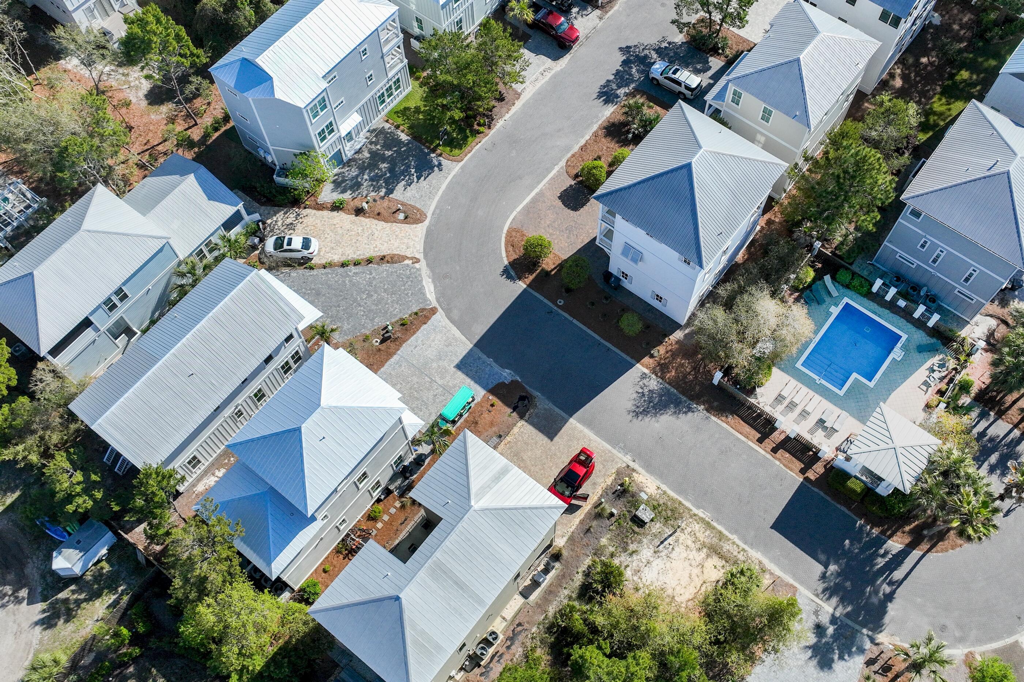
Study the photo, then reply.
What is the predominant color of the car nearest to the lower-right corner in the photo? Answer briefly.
red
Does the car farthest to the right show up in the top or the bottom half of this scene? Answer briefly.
top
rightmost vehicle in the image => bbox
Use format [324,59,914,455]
[647,64,706,100]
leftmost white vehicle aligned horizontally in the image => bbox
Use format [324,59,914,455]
[265,234,318,260]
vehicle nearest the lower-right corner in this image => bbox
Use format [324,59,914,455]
[548,444,597,506]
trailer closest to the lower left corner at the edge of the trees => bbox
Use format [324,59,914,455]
[59,519,120,584]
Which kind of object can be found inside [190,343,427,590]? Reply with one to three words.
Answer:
house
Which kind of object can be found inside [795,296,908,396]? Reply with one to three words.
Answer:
swimming pool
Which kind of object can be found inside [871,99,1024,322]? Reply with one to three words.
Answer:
house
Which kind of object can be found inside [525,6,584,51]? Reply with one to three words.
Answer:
truck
